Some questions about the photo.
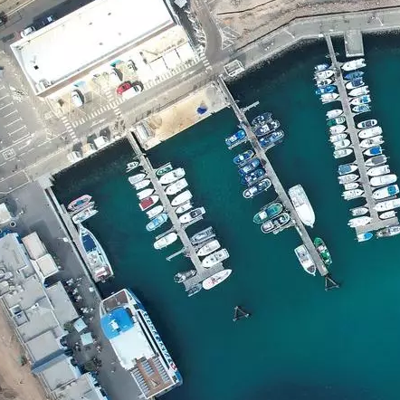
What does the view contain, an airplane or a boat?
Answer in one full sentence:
I can see a boat in this picture.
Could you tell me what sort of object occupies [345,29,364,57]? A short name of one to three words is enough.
pier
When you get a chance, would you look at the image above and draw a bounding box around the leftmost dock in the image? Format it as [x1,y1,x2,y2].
[49,188,95,249]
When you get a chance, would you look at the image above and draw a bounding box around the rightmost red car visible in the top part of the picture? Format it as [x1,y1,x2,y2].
[116,82,133,94]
